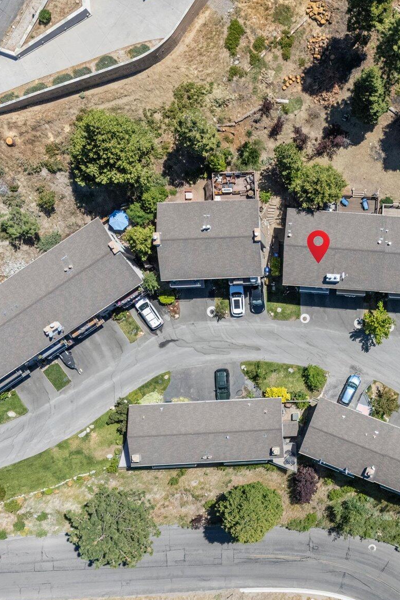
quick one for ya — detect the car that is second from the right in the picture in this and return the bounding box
[249,285,265,314]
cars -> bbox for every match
[229,285,246,318]
[249,285,265,314]
[136,298,163,332]
[213,368,230,400]
[339,373,361,405]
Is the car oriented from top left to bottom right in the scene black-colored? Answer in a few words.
No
